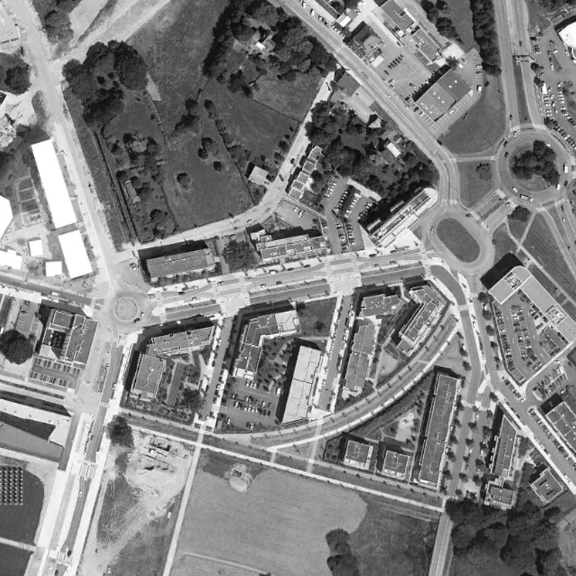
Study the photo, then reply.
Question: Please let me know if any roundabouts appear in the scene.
Yes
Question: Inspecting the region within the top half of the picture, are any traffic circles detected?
Yes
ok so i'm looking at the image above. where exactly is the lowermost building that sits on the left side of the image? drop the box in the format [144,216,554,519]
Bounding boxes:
[0,399,71,446]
